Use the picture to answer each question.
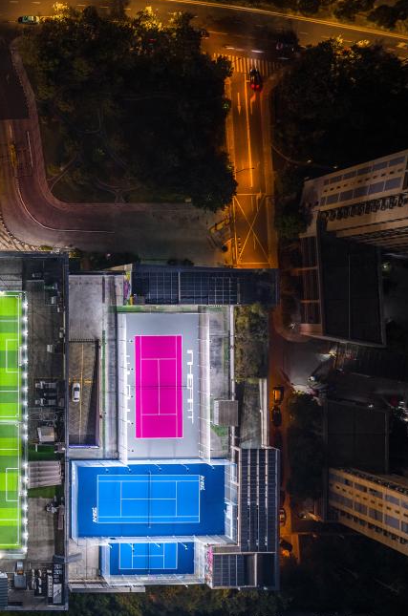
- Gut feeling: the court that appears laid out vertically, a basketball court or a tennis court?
tennis court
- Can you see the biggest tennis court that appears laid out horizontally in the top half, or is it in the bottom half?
bottom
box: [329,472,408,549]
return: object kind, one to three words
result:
building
